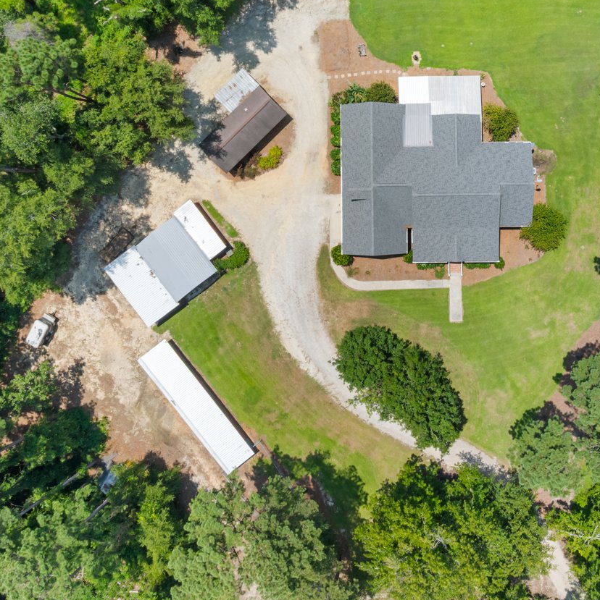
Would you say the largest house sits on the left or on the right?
right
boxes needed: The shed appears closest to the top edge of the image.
[199,69,289,171]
